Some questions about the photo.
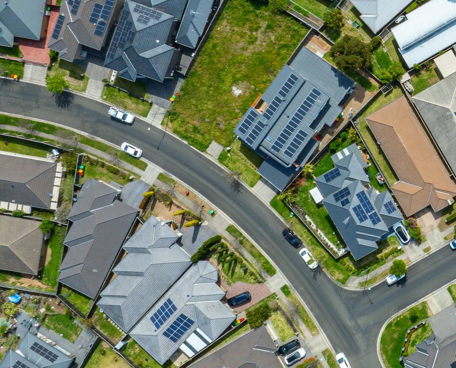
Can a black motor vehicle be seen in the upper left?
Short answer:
No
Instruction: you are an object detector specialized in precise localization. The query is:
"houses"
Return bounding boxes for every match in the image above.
[96,213,189,333]
[347,0,408,29]
[130,259,237,364]
[366,95,456,217]
[57,178,141,300]
[391,0,456,62]
[0,328,81,368]
[0,215,46,275]
[412,49,456,173]
[50,0,120,63]
[315,144,403,261]
[103,0,189,83]
[232,46,357,192]
[0,153,63,214]
[405,332,456,368]
[0,0,47,47]
[191,326,288,368]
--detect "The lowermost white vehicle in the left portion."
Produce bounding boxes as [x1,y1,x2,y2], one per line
[120,143,144,157]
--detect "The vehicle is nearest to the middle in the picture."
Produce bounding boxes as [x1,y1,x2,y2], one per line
[283,227,302,248]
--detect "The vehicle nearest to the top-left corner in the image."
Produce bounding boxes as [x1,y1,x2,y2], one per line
[108,107,134,123]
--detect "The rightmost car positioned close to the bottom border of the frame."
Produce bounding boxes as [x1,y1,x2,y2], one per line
[337,354,351,368]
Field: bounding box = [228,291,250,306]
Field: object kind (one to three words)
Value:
car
